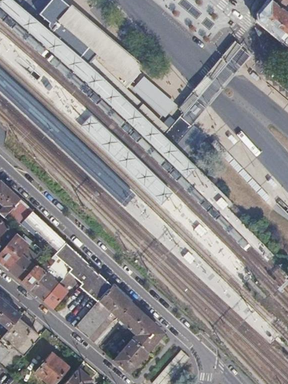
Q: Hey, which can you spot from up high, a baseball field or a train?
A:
train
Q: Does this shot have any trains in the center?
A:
Yes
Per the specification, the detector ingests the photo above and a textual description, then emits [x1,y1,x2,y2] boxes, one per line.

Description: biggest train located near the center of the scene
[48,54,250,250]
